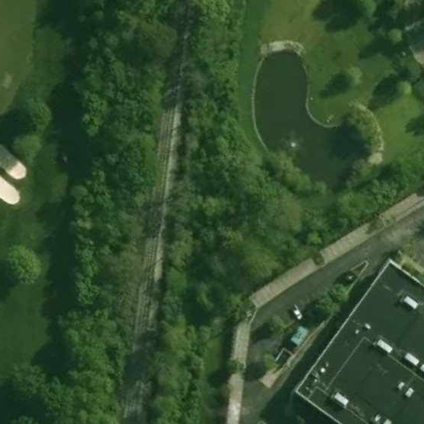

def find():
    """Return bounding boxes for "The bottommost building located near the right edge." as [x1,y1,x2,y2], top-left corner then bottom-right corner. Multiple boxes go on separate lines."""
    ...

[297,261,424,424]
